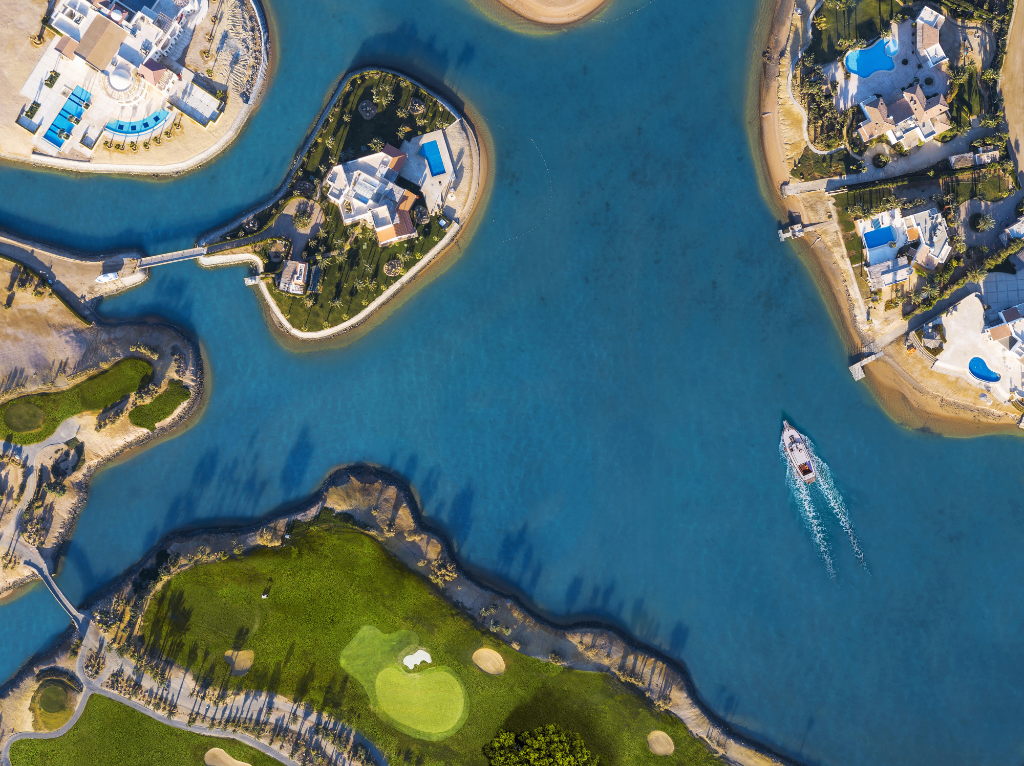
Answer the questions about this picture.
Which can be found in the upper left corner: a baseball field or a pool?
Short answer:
pool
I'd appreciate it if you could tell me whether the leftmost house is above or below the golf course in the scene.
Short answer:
above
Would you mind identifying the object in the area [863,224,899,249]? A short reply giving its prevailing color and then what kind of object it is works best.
blue swimming pool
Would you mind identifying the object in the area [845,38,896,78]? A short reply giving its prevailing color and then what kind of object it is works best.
blue swimming pool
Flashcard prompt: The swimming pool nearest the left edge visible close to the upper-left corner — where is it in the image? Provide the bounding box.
[42,84,93,149]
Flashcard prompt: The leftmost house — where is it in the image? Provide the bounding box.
[52,0,198,113]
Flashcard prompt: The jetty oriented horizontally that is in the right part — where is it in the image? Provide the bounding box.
[776,222,827,242]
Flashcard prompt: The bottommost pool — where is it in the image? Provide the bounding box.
[968,357,1001,382]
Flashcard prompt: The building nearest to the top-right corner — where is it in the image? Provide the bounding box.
[915,6,948,69]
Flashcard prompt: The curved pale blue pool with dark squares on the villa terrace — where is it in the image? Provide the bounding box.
[104,106,172,137]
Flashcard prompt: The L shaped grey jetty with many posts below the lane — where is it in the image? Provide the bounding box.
[848,350,884,381]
